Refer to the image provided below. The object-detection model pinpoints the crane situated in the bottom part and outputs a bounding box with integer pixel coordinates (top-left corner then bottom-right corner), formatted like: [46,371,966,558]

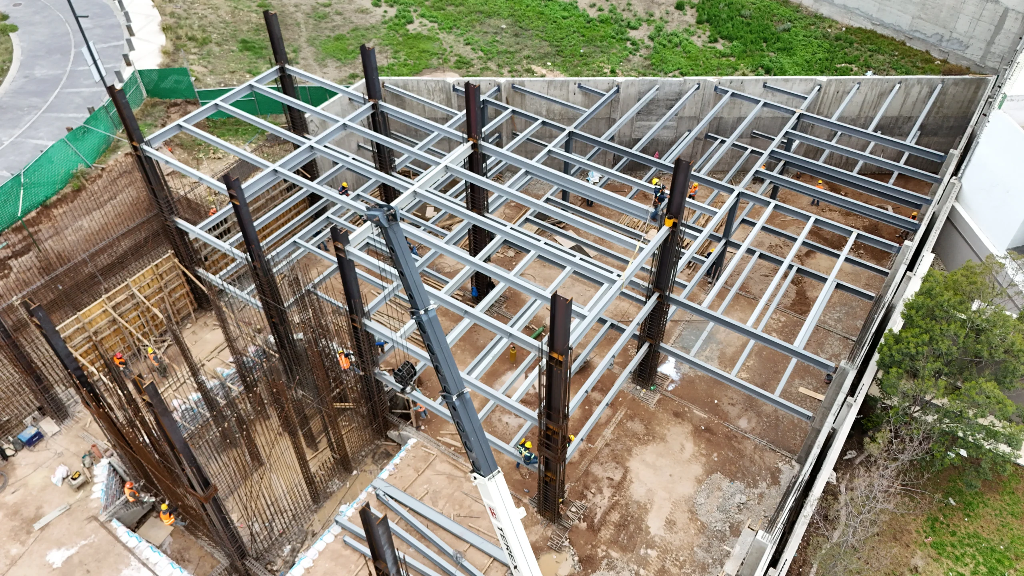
[371,213,537,576]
